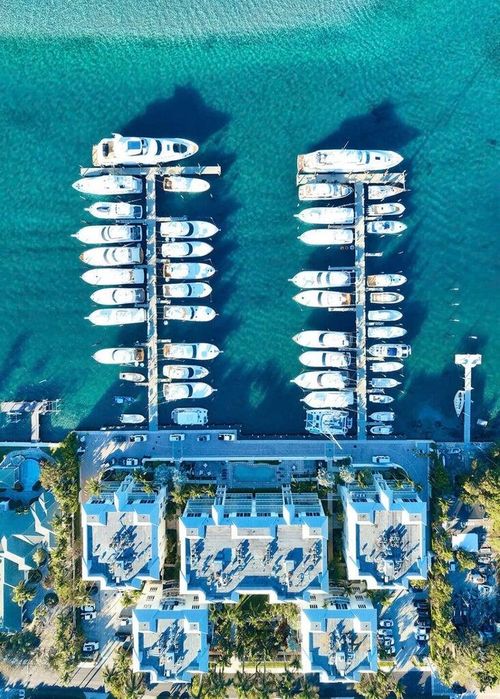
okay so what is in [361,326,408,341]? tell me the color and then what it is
white boat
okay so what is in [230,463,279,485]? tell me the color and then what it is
blue swimming pool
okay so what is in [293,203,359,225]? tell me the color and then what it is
white boat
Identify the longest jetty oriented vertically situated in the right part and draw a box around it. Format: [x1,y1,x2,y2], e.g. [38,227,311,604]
[296,168,408,439]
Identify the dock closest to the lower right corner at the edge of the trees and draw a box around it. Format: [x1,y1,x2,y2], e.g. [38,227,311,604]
[454,353,486,443]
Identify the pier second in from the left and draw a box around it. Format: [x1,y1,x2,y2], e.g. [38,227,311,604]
[77,160,221,429]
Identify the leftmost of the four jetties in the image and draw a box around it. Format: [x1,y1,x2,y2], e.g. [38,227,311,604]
[0,401,62,443]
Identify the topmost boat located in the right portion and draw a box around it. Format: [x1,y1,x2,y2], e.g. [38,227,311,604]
[294,129,406,172]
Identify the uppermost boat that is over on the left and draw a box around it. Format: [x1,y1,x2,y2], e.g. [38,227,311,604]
[91,120,199,165]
